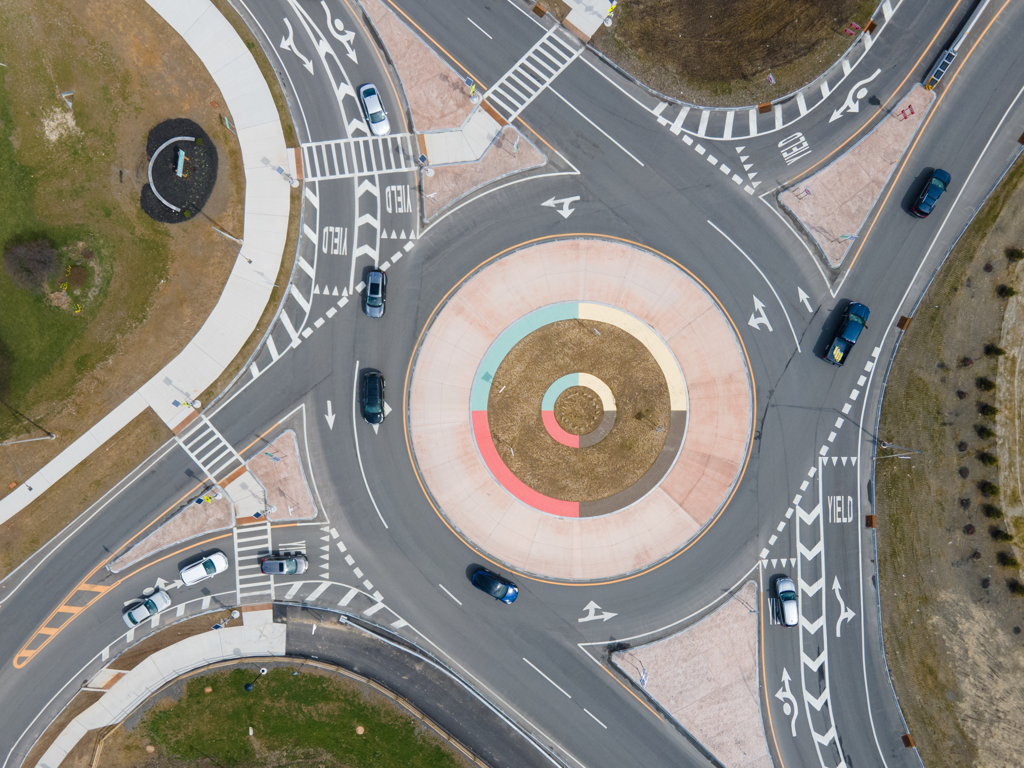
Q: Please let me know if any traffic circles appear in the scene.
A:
Yes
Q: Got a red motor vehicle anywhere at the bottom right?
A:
No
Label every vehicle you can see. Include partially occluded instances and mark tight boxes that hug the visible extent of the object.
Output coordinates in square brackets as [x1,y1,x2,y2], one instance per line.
[770,576,799,630]
[121,591,174,629]
[471,568,520,603]
[909,169,949,219]
[179,551,231,587]
[259,552,310,578]
[360,372,386,425]
[822,304,867,367]
[359,83,391,138]
[362,269,388,319]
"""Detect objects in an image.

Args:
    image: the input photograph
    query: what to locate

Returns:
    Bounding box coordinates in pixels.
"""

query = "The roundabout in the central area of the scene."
[291,116,881,671]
